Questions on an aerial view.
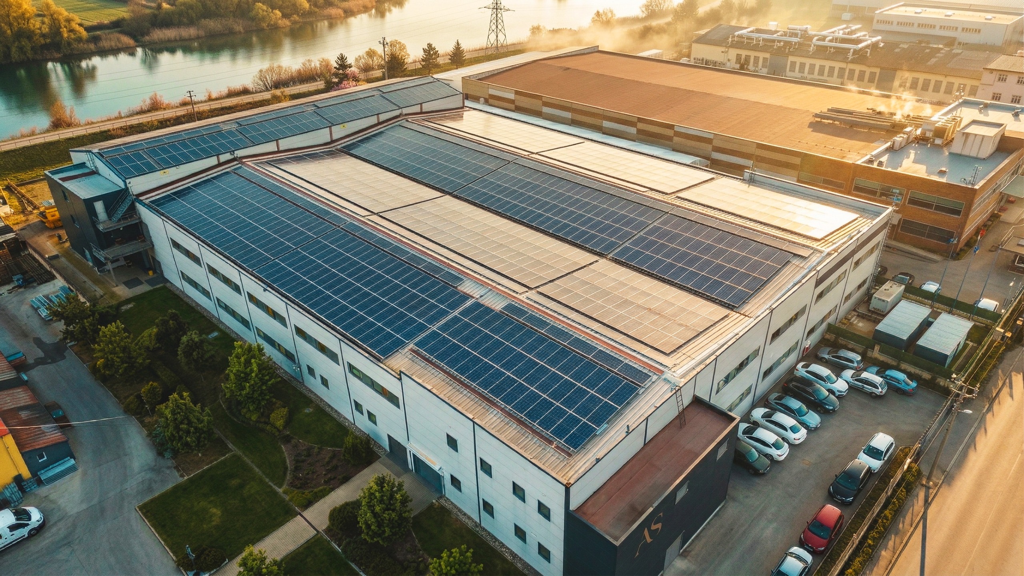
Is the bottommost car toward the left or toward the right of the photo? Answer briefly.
right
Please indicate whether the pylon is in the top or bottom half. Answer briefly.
top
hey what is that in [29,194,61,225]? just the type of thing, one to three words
truck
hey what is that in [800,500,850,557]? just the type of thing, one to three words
car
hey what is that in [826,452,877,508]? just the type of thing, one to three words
car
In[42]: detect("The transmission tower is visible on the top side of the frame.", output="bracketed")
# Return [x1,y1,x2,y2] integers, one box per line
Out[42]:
[485,0,509,56]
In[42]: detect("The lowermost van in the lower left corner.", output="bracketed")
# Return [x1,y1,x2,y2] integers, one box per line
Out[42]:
[0,510,52,551]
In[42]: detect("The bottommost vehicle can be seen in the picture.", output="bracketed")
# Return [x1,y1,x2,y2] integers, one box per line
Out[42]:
[770,546,821,576]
